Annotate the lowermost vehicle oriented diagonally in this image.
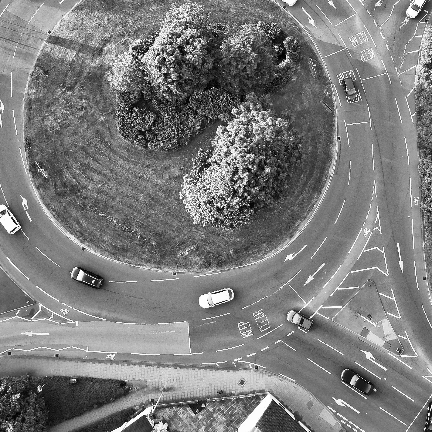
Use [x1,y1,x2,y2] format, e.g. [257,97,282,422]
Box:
[338,365,376,399]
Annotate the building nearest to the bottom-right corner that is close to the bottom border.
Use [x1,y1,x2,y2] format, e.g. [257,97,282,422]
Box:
[225,393,314,432]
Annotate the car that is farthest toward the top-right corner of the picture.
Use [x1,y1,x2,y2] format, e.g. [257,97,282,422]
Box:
[403,0,428,20]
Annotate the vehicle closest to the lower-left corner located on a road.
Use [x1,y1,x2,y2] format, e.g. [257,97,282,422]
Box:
[69,266,105,291]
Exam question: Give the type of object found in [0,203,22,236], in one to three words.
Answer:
car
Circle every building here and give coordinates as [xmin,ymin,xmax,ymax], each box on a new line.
[112,406,163,432]
[225,393,314,432]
